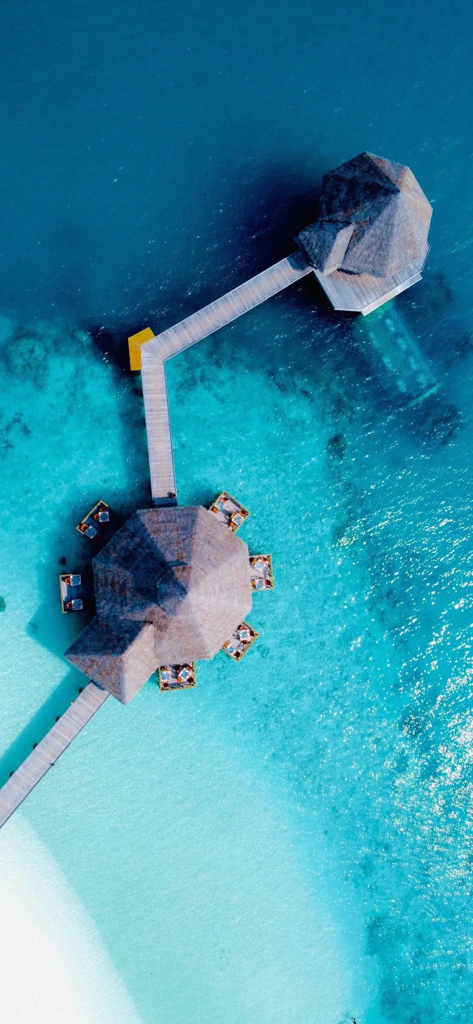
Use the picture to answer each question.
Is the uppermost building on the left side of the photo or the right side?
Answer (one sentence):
The uppermost building sits on the right side.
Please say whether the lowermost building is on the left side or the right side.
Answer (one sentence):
The lowermost building appears in the left half of the scene.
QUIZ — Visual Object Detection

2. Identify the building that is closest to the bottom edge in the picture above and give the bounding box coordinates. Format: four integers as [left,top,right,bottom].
[64,504,253,707]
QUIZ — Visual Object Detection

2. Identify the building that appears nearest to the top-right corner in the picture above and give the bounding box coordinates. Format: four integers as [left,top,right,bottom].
[278,152,433,323]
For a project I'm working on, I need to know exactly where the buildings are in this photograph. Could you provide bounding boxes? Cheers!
[278,152,433,323]
[64,504,253,707]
